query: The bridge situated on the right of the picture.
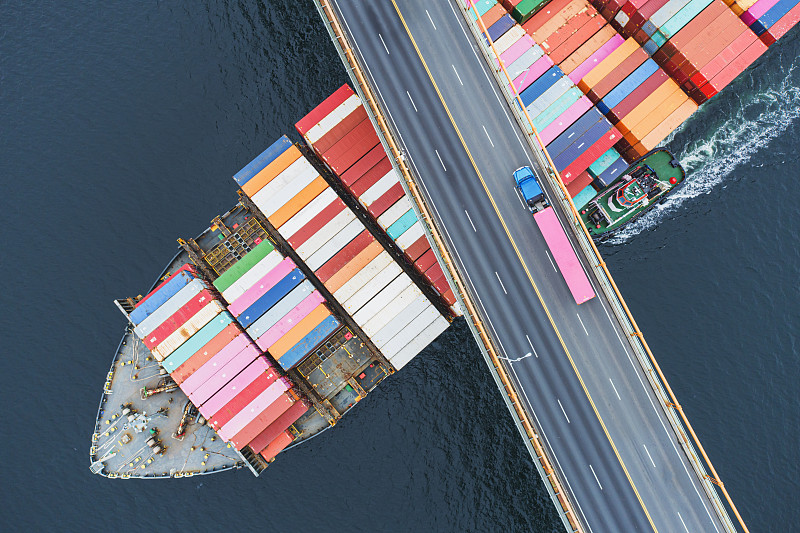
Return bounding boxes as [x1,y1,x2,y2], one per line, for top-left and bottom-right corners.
[313,0,748,533]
